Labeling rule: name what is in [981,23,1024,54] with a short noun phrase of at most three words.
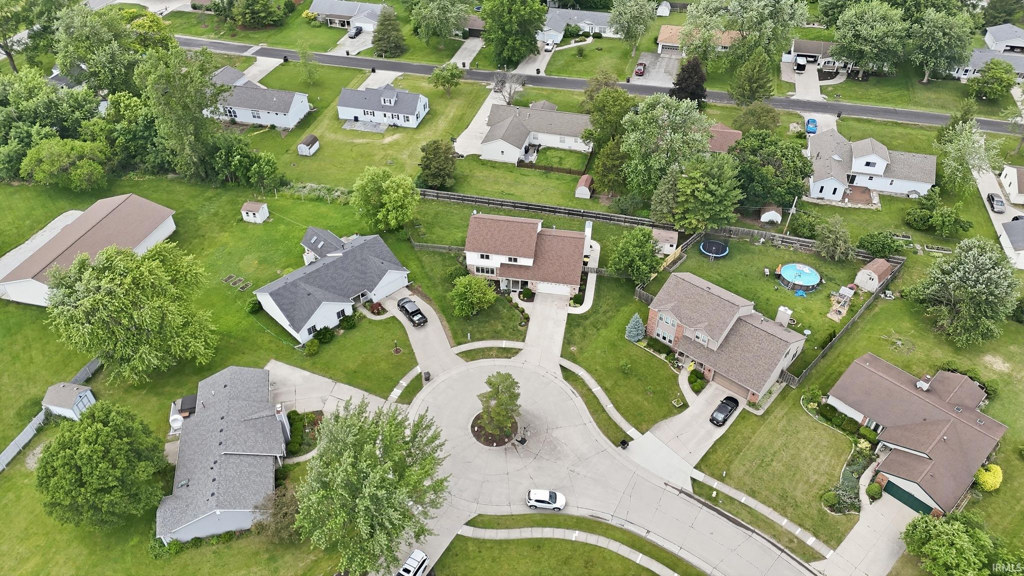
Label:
building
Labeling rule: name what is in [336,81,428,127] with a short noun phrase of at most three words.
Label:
house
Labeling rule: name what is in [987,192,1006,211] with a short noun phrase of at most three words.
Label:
car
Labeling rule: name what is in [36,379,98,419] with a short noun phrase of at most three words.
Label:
shed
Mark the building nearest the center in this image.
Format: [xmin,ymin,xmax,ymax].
[464,208,595,299]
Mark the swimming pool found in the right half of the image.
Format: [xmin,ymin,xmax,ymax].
[776,261,822,295]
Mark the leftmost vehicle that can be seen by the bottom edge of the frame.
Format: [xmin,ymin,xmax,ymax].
[395,547,430,576]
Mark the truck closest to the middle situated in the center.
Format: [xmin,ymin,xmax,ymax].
[396,297,427,327]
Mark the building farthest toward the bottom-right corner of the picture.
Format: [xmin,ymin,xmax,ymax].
[827,350,1007,519]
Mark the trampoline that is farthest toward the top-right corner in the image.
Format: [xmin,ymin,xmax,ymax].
[700,234,730,259]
